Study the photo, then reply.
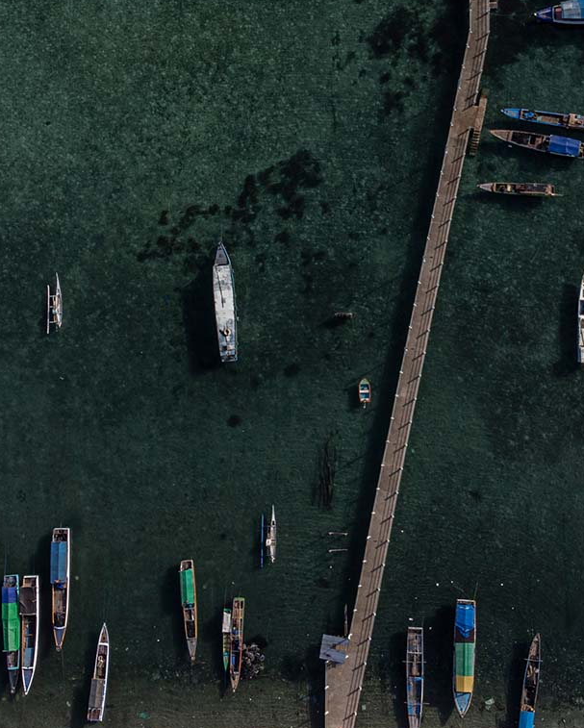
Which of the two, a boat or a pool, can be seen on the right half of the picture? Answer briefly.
boat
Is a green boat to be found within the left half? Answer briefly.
Yes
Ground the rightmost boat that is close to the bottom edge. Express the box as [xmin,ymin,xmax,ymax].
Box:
[519,634,540,728]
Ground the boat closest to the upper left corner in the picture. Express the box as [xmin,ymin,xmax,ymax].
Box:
[47,273,62,334]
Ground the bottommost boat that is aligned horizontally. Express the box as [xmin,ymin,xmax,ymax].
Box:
[477,183,564,195]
